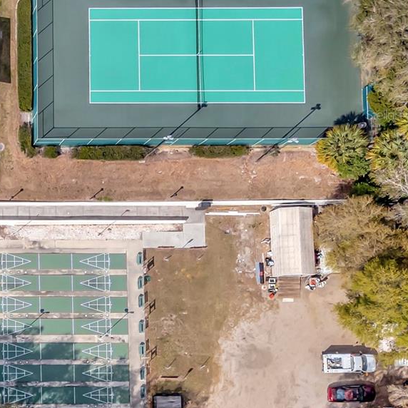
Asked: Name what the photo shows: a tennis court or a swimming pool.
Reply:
tennis court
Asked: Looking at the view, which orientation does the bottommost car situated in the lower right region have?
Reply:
horizontally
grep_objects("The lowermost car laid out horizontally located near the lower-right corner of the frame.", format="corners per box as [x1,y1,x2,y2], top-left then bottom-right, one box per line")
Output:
[329,382,379,405]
